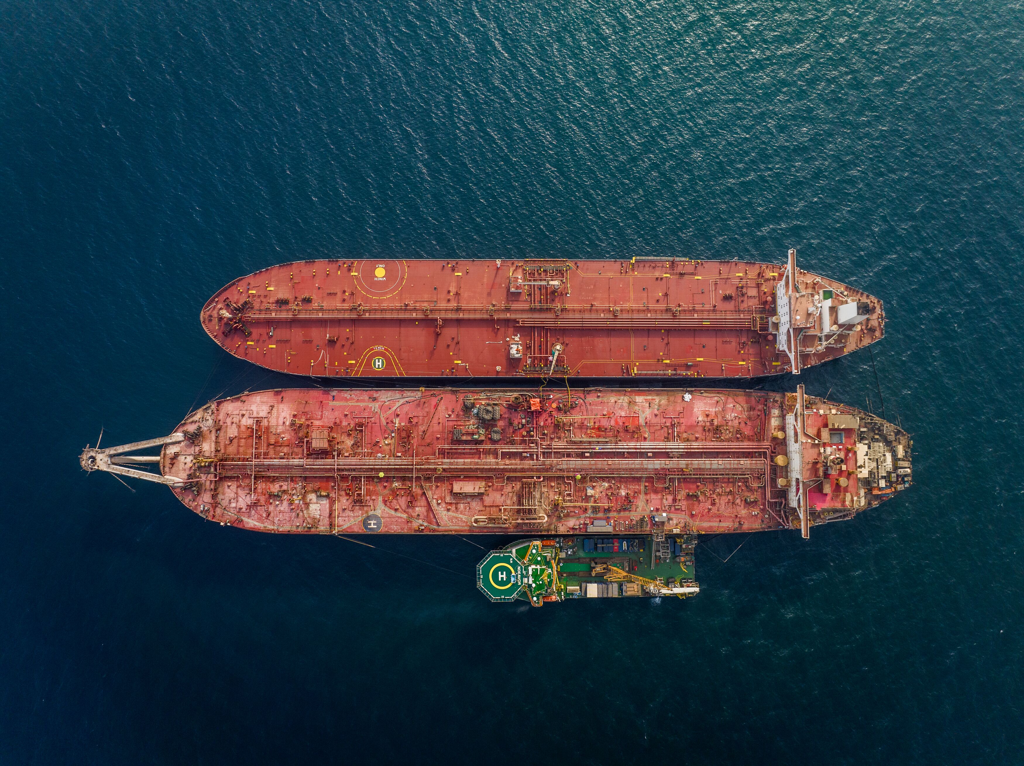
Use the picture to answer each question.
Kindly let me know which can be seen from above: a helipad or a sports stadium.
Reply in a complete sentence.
It is a helipad that can be seen here.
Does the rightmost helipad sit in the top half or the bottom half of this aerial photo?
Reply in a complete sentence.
You can find the rightmost helipad in the bottom half.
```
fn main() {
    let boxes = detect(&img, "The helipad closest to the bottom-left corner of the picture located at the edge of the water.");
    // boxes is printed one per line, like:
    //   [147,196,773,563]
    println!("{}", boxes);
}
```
[362,512,383,532]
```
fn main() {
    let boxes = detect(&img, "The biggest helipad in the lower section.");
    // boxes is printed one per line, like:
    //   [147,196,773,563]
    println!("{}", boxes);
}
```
[477,550,527,603]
